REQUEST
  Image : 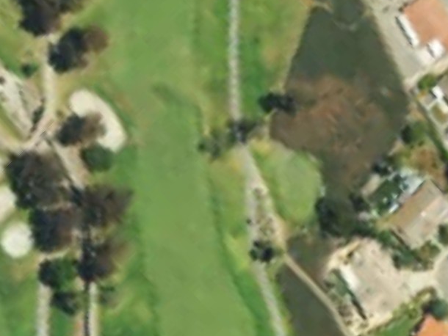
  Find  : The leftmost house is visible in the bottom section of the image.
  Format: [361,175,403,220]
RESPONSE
[338,239,409,313]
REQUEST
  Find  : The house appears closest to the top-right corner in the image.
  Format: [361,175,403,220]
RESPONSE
[400,0,448,61]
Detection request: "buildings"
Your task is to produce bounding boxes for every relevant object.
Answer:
[372,179,448,250]
[338,239,409,313]
[411,314,448,336]
[400,0,448,61]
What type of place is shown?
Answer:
golf course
